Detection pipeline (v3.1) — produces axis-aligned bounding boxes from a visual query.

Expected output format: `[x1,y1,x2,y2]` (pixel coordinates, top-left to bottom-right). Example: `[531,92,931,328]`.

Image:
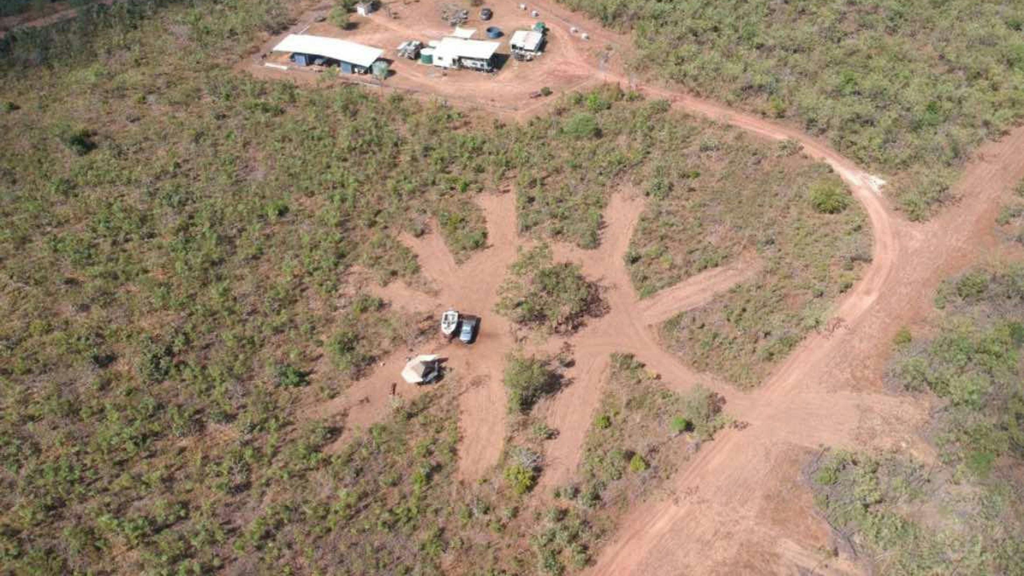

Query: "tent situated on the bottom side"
[401,353,449,383]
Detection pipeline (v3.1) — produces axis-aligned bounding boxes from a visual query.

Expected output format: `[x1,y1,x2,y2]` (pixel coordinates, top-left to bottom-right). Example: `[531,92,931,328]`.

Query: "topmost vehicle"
[479,8,491,21]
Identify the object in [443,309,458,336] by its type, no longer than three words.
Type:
boat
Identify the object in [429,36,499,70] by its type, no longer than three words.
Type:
house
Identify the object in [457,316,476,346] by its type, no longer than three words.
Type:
vehicle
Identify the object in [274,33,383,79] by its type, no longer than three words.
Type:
shed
